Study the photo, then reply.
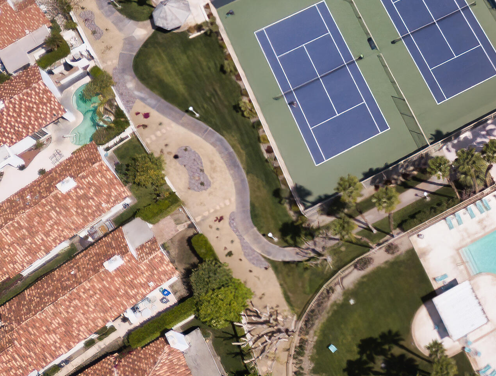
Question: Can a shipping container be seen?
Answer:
No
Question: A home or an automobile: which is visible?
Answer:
home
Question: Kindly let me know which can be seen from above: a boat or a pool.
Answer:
pool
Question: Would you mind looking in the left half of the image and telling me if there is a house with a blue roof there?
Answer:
No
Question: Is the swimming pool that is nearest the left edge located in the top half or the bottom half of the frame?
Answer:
top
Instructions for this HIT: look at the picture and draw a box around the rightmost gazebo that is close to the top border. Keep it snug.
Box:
[150,0,198,39]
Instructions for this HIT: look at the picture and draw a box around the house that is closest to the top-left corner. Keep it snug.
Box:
[0,0,61,76]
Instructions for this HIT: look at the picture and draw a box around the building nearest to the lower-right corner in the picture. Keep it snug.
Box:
[431,280,490,343]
